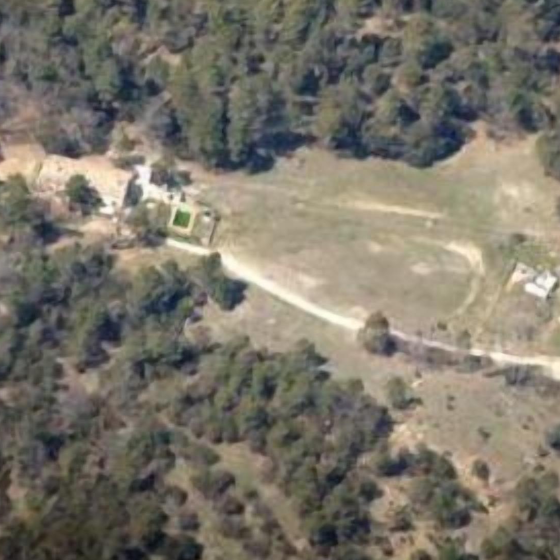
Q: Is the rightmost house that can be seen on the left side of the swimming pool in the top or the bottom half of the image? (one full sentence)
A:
Seen from above, the rightmost house that can be seen on the left side of the swimming pool lies in the top half of the view.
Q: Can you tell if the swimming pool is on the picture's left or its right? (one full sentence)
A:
The swimming pool is on the left side of the image.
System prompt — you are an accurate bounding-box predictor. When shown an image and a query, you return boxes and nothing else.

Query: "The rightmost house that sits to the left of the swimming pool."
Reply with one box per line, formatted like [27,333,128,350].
[88,164,136,219]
